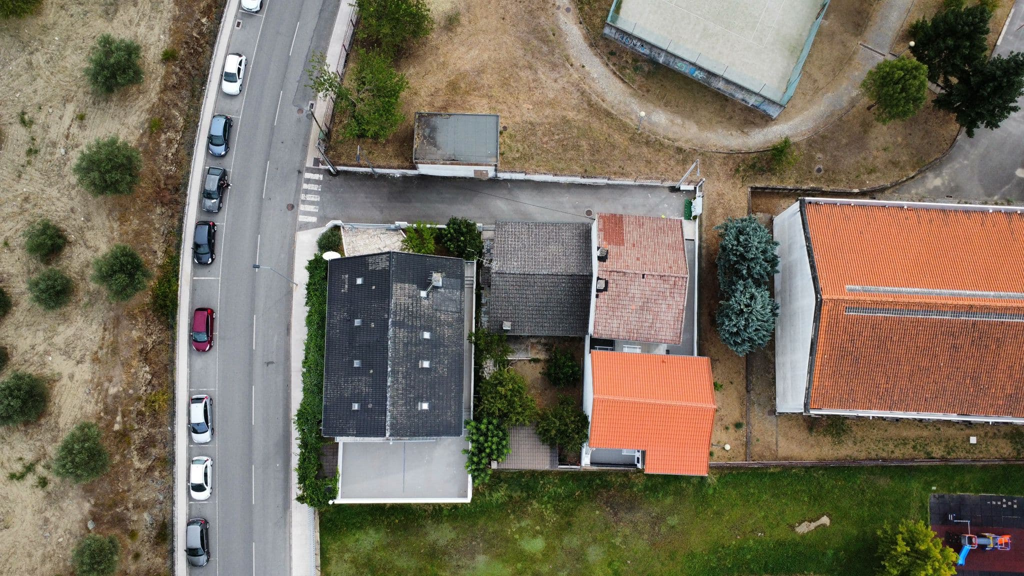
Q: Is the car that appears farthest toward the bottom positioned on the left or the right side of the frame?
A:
left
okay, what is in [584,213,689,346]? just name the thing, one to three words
house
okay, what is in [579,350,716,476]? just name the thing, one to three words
house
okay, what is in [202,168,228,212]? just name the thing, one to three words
car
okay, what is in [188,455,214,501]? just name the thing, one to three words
car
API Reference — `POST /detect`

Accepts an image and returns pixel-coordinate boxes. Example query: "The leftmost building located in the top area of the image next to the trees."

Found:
[415,113,499,175]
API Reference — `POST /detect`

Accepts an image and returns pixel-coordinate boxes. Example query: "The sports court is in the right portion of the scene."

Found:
[603,0,835,119]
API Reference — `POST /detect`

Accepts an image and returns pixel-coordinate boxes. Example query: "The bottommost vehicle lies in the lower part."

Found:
[183,516,212,568]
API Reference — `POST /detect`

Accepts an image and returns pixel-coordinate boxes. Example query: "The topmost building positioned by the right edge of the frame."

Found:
[776,196,1024,428]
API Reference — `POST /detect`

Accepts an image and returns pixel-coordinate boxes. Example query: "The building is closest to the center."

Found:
[481,220,593,337]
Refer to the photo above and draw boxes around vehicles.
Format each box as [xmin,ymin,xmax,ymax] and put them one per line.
[244,0,264,12]
[207,115,234,157]
[192,221,218,265]
[188,455,214,501]
[221,54,248,96]
[183,516,212,568]
[190,308,216,351]
[202,168,228,212]
[188,395,215,444]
